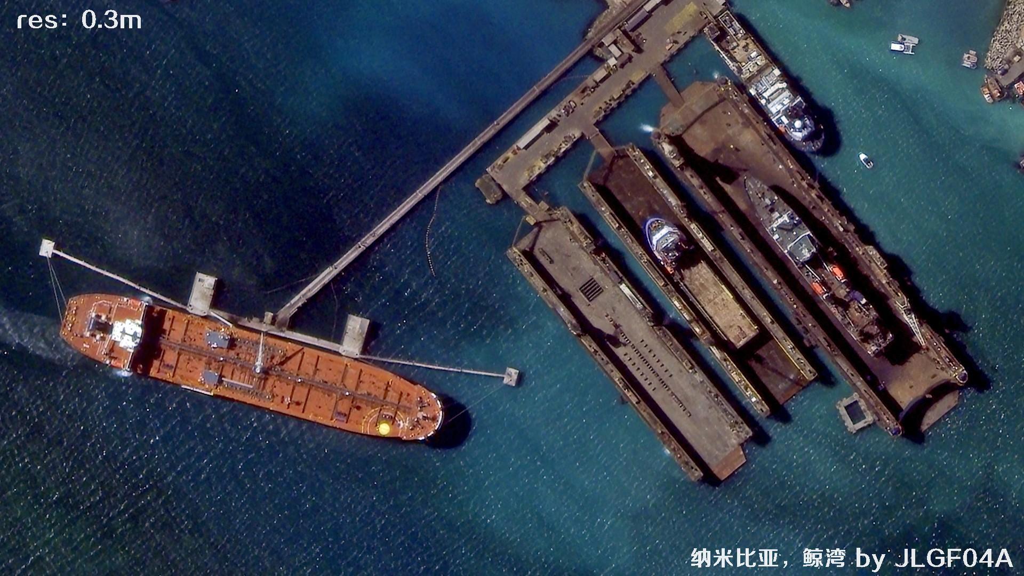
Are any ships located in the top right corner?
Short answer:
Yes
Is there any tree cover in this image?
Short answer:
No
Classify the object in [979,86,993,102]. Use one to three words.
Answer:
boat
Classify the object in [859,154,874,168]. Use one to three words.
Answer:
boat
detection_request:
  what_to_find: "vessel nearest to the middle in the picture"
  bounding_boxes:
[474,173,503,204]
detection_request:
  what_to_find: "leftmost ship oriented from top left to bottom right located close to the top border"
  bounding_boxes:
[703,11,823,151]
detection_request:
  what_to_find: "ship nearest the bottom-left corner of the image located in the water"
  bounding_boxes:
[60,293,443,441]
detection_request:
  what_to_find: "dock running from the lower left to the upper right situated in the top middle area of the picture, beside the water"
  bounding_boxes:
[485,0,727,223]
